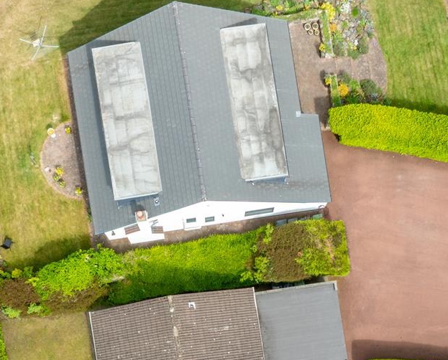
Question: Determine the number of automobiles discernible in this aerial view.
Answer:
none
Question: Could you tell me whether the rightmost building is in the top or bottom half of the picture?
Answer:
bottom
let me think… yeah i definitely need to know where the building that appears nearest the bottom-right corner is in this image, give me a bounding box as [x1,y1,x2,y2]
[256,281,347,360]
